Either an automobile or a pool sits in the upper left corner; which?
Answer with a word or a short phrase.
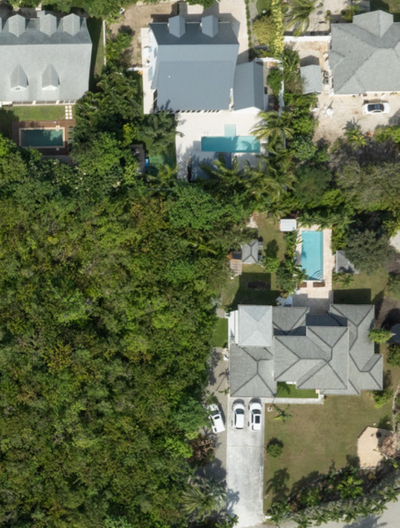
pool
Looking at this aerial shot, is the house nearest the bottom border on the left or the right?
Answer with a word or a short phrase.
right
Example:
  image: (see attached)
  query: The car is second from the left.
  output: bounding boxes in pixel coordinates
[230,402,246,428]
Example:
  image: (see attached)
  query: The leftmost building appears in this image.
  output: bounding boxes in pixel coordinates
[0,11,93,111]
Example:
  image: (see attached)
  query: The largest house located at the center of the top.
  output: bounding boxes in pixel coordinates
[146,15,264,118]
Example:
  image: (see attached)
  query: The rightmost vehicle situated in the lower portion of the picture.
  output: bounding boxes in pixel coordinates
[247,402,263,429]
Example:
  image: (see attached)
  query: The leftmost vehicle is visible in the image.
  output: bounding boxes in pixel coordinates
[207,404,226,432]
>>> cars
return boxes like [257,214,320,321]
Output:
[361,102,391,116]
[230,402,246,428]
[247,402,263,429]
[207,404,226,432]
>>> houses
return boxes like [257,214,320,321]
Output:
[222,305,384,397]
[0,11,93,111]
[146,15,264,118]
[321,9,400,99]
